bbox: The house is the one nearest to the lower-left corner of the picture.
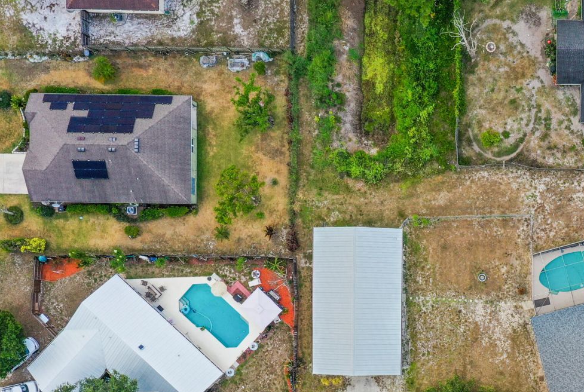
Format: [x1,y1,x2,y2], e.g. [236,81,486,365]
[27,274,225,392]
